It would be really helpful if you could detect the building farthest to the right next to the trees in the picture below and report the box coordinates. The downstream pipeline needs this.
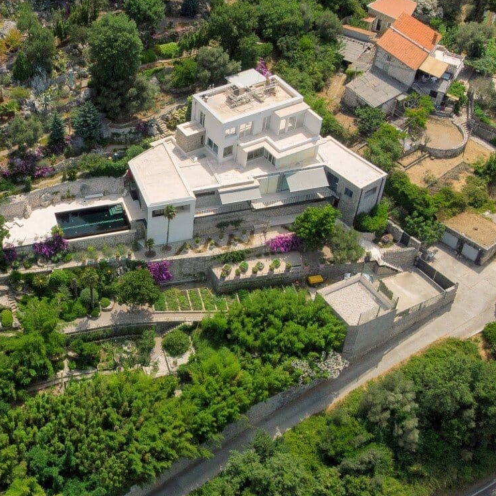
[440,211,496,264]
